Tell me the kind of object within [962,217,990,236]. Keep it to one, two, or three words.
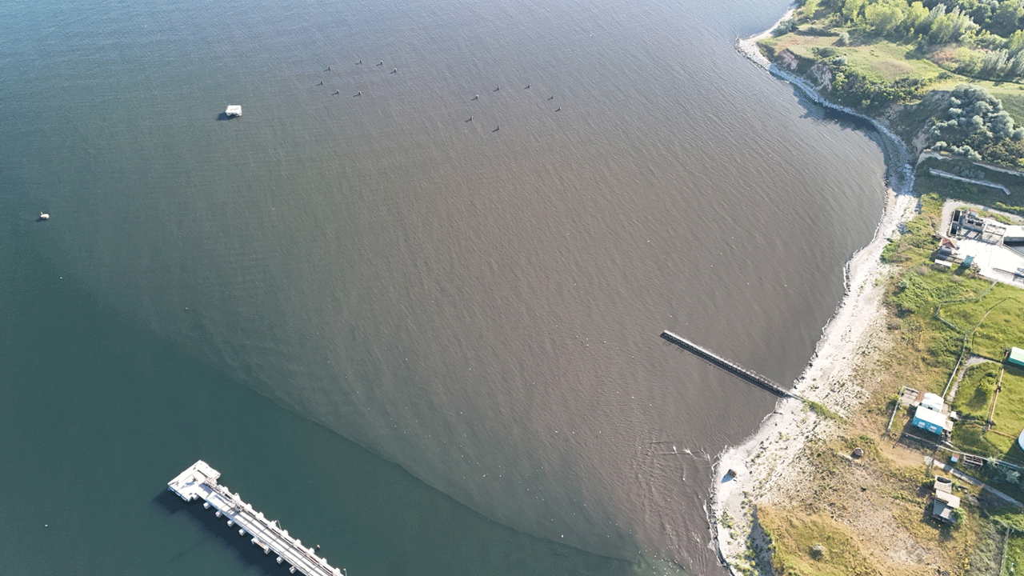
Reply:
building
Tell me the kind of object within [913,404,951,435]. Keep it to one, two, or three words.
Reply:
building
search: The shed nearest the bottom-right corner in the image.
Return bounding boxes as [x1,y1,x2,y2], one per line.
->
[935,492,966,527]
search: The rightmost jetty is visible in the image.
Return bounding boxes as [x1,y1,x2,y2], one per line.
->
[664,331,804,405]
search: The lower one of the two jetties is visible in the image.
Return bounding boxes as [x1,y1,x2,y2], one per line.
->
[167,459,345,576]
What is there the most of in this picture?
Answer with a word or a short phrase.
water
